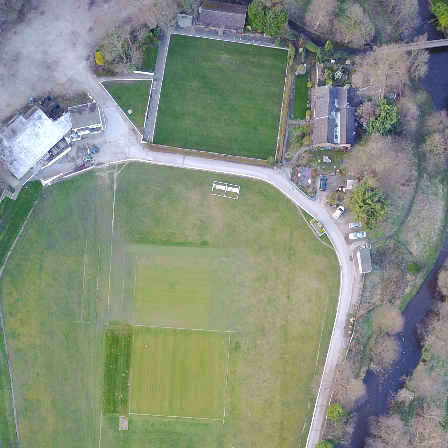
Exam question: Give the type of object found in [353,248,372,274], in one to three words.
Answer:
shed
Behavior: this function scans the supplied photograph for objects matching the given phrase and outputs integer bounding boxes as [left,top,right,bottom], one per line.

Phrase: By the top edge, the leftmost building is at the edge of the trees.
[200,0,248,41]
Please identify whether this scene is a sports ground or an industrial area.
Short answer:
sports ground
